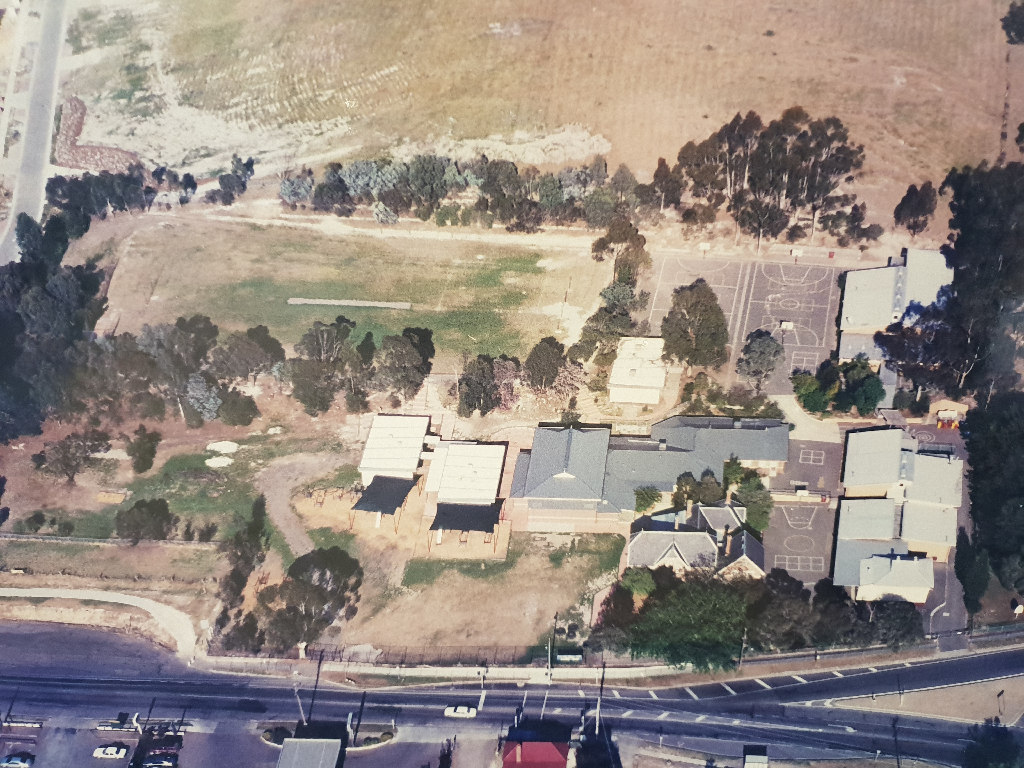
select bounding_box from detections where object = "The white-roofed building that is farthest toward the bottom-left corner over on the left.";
[358,416,429,481]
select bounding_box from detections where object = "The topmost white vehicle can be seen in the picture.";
[443,705,477,720]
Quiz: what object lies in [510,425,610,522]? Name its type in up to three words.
building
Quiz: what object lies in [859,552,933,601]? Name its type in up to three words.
house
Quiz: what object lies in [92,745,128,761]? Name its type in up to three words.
car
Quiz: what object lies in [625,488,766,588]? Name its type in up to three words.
building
